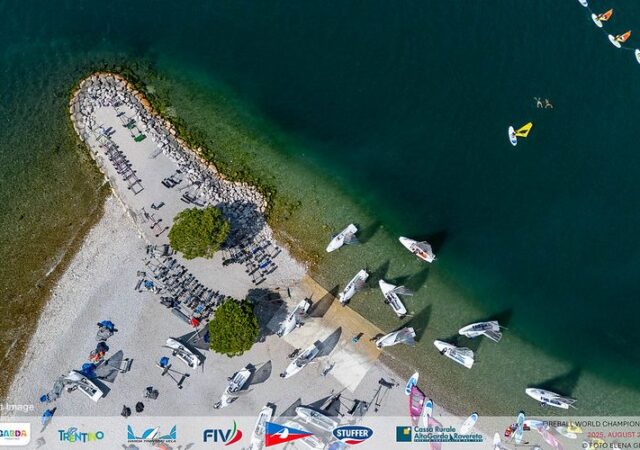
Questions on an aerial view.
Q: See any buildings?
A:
No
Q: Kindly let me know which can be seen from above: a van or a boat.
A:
boat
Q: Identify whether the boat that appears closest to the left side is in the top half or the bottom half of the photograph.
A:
bottom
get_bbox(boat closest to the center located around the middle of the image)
[326,223,363,253]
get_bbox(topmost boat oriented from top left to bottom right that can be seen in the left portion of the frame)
[155,339,206,375]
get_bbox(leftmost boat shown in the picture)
[43,372,106,408]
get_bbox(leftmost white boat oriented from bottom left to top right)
[216,368,256,408]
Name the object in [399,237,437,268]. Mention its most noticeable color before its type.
white boat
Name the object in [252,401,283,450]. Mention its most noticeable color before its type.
white boat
